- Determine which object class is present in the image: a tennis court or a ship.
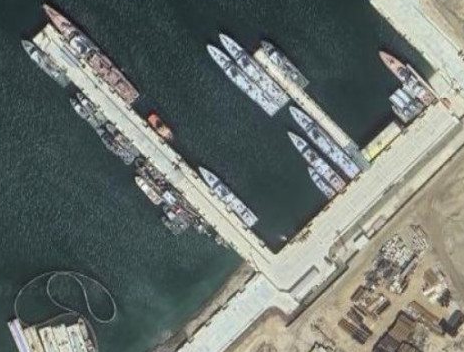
ship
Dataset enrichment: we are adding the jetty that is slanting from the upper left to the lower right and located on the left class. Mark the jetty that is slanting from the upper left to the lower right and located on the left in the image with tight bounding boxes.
[32,24,274,284]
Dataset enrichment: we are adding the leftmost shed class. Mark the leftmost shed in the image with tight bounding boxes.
[291,270,322,302]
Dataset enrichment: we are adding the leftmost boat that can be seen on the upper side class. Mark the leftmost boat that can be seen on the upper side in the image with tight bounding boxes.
[22,39,71,88]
